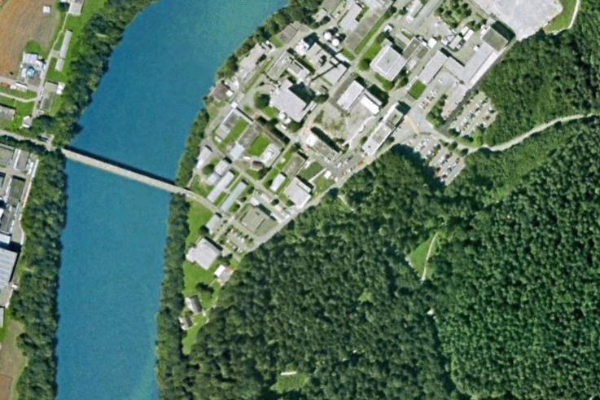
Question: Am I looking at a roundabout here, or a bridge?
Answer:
bridge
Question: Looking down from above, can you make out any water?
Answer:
Yes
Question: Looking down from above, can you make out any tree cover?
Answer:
Yes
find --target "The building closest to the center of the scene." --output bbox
[283,178,312,208]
